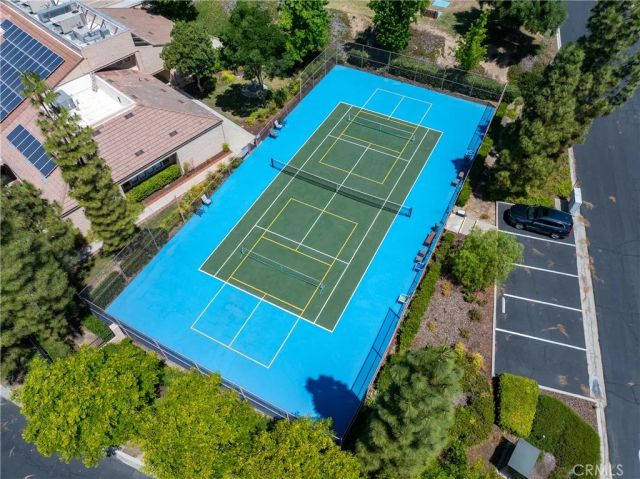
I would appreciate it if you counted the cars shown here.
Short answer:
1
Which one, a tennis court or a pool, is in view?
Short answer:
tennis court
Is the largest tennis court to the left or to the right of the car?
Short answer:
to its left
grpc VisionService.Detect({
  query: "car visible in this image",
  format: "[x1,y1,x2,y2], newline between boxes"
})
[508,203,577,239]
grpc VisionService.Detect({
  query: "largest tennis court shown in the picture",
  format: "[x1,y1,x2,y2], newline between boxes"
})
[99,64,496,443]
